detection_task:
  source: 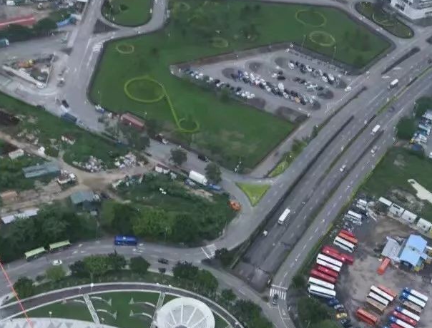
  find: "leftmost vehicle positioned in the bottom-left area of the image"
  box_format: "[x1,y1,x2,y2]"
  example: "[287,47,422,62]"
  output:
[24,247,46,260]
